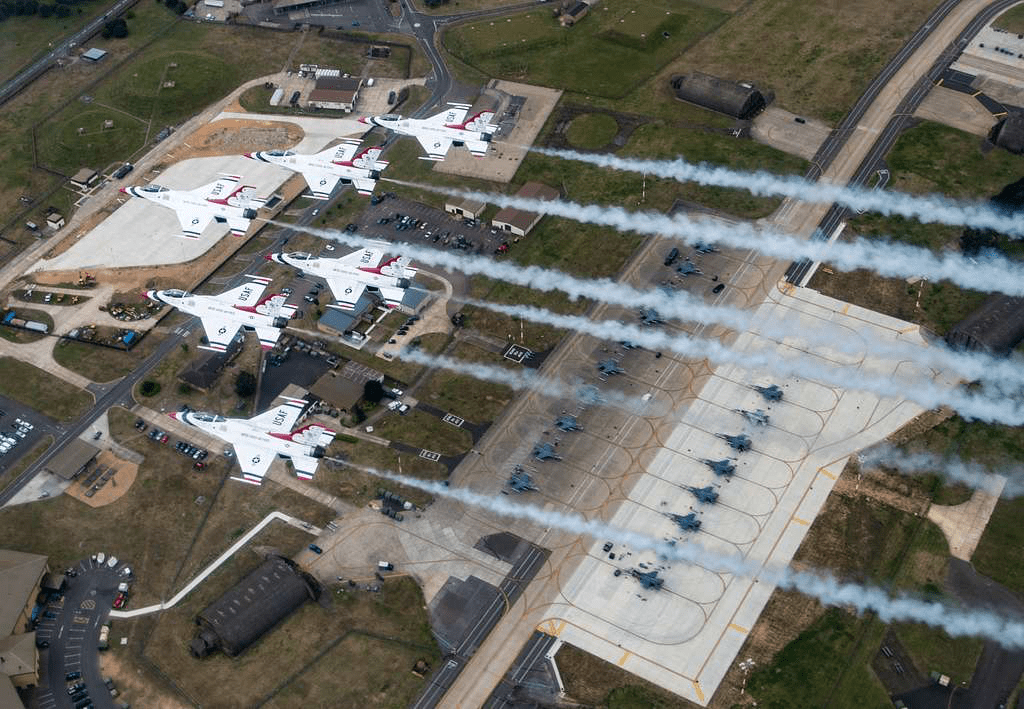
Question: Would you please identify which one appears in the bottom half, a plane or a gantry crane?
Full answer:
There is a plane in the bottom half.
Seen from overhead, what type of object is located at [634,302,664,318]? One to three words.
airplane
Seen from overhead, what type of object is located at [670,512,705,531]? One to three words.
airplane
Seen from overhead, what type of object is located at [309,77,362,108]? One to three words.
building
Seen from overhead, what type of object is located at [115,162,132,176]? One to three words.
vehicle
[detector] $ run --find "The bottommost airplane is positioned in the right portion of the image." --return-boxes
[632,569,668,589]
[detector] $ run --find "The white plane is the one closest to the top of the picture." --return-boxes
[354,103,498,160]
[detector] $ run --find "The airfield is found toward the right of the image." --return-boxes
[291,0,1024,709]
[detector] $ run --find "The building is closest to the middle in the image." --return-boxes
[399,283,433,312]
